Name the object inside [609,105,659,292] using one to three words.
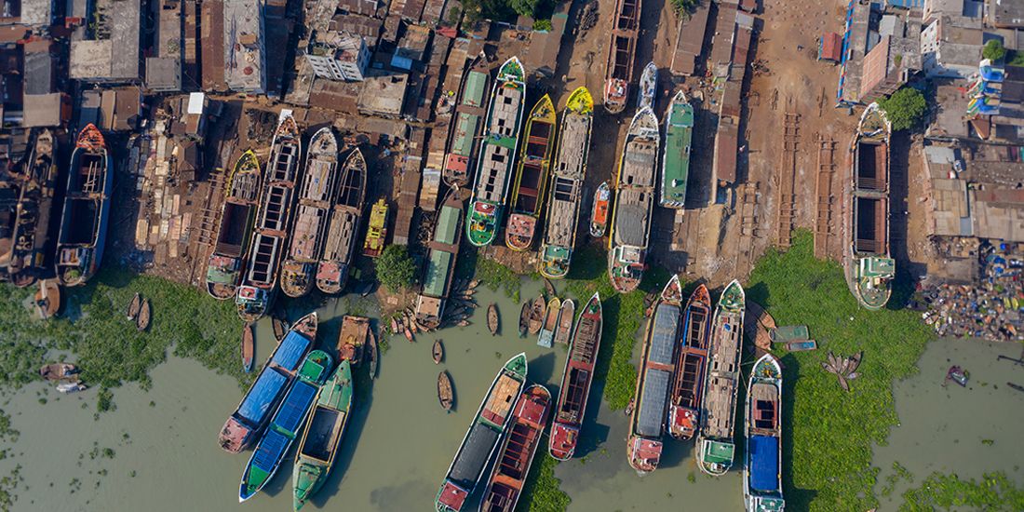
ship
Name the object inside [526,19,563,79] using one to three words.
shed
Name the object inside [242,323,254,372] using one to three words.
boat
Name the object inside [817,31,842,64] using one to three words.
shed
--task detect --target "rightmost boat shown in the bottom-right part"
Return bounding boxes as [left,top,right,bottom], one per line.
[950,369,965,384]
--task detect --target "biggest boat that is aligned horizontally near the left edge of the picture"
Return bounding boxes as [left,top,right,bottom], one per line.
[39,362,79,377]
